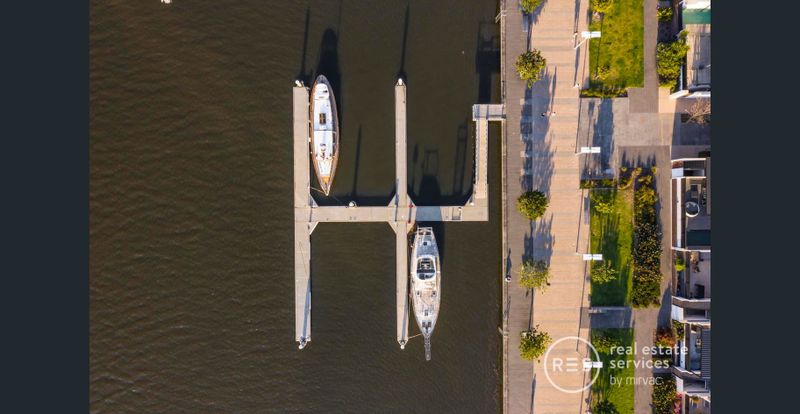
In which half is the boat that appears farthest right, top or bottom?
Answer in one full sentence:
The bottom half of the photo is where the boat that appears farthest right is.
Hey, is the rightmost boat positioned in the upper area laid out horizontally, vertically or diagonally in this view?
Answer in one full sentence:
Seen from above, the rightmost boat positioned in the upper area lies vertically.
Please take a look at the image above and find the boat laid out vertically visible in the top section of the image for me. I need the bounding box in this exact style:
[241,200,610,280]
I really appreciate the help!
[309,74,339,205]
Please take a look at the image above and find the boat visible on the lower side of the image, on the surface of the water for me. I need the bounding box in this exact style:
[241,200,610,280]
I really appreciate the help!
[405,224,441,362]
